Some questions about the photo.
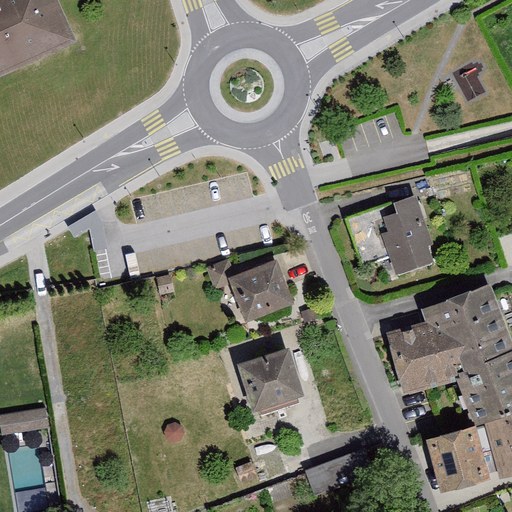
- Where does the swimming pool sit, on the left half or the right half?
left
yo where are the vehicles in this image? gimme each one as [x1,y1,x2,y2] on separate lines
[387,187,410,200]
[402,392,426,405]
[35,271,48,296]
[402,406,426,418]
[134,199,146,221]
[208,179,220,202]
[426,468,439,490]
[260,222,272,244]
[125,252,140,276]
[376,118,390,137]
[288,266,308,278]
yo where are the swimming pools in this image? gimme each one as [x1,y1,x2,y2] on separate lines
[4,430,60,512]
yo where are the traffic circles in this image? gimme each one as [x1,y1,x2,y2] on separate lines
[182,21,312,150]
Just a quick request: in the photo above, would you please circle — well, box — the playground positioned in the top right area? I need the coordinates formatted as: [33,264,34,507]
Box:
[440,59,488,103]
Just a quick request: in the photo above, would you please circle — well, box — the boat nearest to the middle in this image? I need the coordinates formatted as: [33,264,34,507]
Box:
[294,350,306,380]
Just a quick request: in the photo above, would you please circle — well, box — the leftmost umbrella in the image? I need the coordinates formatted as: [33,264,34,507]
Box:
[2,435,20,453]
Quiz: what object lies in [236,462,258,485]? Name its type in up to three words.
shed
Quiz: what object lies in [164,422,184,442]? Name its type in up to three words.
gazebo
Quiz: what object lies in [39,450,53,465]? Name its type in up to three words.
umbrella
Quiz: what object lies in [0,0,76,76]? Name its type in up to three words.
house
